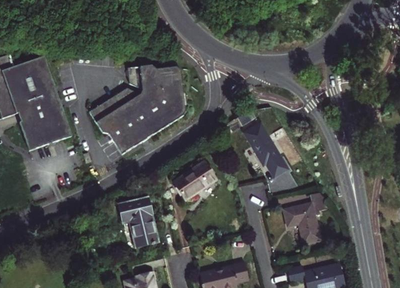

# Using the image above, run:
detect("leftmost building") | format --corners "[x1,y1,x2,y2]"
[0,55,72,152]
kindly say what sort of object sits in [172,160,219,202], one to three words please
house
